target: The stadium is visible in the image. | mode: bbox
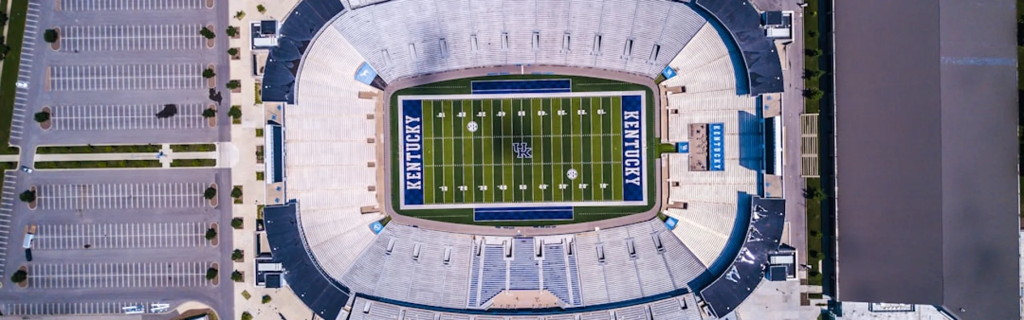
[251,0,799,320]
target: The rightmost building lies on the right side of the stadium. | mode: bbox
[824,0,1022,320]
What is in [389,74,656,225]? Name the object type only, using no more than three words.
sports field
